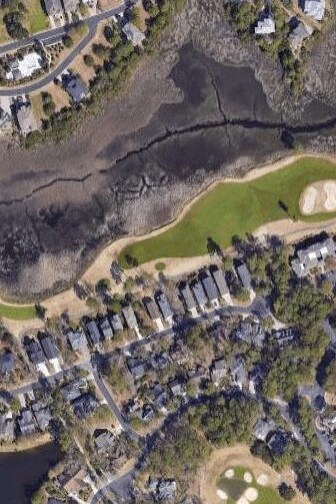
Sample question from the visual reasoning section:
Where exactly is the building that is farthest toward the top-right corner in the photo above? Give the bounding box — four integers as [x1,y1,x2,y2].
[304,0,325,21]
